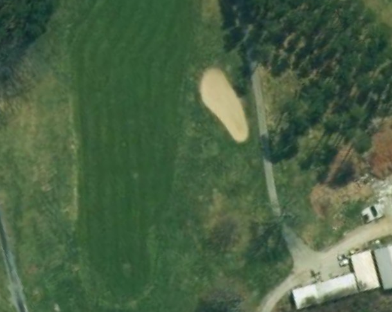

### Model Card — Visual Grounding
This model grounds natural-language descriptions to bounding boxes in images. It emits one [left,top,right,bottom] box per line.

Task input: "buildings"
[352,251,381,293]
[375,247,392,290]
[292,274,359,310]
